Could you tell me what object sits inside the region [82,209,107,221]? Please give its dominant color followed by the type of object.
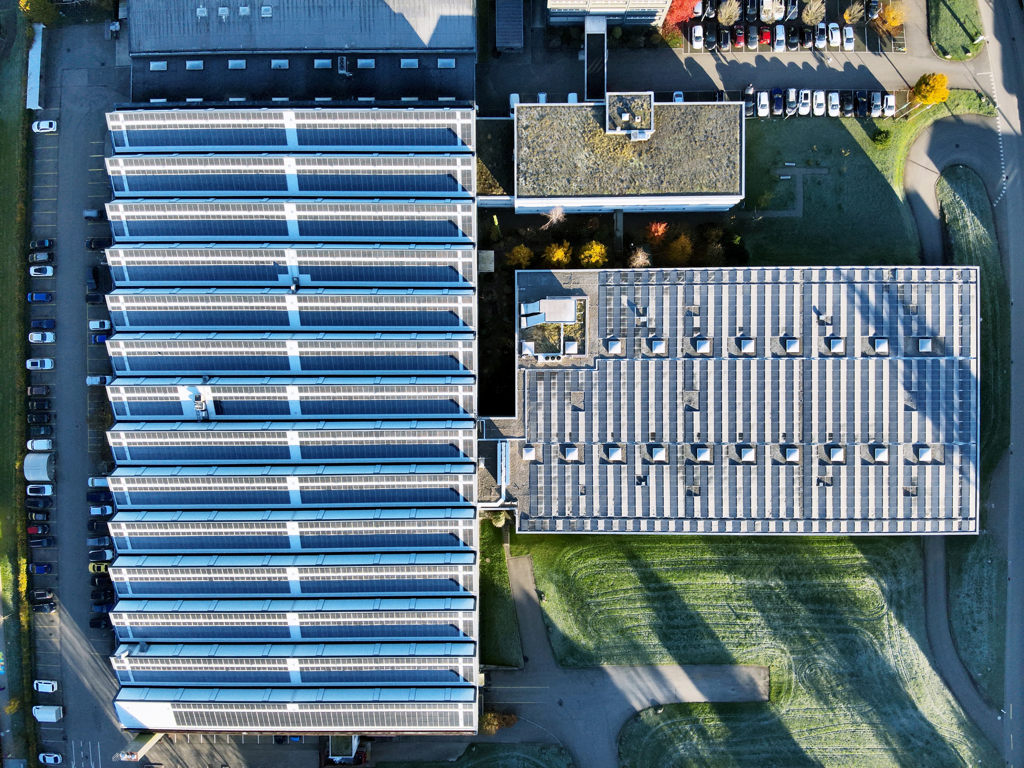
blue vehicle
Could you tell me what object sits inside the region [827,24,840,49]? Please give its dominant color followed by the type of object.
white vehicle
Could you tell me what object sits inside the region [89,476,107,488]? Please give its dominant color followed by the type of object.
blue vehicle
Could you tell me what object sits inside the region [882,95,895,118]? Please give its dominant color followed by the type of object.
white vehicle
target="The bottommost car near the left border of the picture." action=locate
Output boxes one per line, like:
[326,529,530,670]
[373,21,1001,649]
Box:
[40,751,65,764]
